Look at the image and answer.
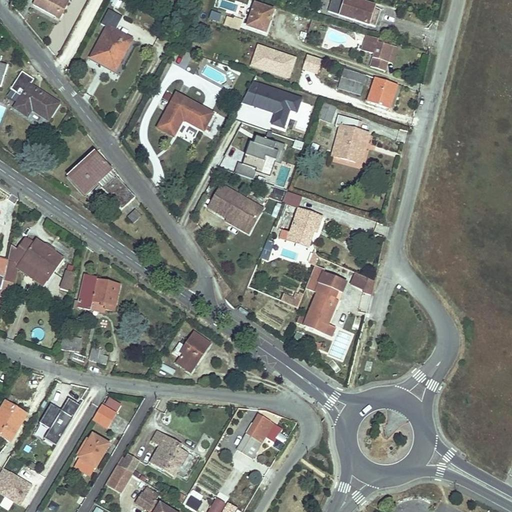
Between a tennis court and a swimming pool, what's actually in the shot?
swimming pool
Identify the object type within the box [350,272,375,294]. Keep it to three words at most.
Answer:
building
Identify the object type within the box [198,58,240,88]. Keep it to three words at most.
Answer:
swimming pool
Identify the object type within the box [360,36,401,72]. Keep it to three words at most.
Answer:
house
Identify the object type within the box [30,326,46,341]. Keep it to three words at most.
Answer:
swimming pool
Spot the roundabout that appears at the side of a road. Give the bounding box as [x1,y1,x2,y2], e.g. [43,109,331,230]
[300,372,462,512]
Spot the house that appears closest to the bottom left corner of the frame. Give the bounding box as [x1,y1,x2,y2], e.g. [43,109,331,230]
[0,468,32,506]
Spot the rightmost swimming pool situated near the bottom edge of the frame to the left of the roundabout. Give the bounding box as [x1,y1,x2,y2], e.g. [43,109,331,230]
[184,490,204,512]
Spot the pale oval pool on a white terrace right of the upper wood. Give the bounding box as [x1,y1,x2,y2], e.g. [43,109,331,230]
[322,28,365,48]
